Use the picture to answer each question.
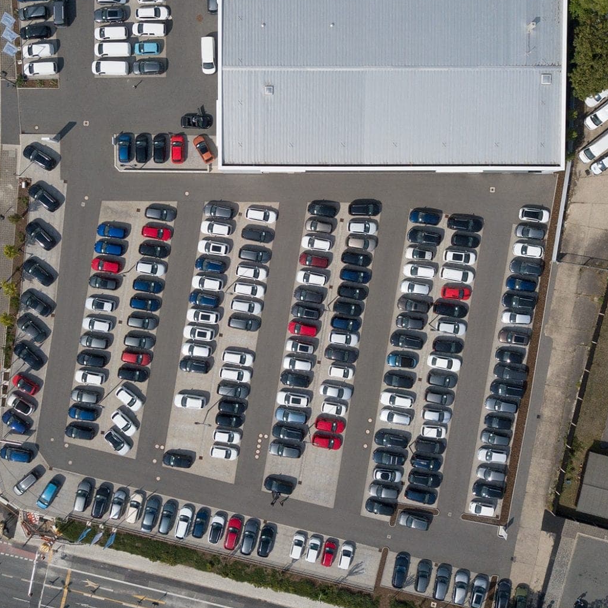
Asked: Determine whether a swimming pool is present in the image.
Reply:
No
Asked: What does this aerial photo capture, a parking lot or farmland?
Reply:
parking lot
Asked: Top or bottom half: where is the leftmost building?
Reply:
top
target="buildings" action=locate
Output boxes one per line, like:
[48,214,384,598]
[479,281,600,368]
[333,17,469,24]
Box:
[216,0,566,176]
[572,452,608,519]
